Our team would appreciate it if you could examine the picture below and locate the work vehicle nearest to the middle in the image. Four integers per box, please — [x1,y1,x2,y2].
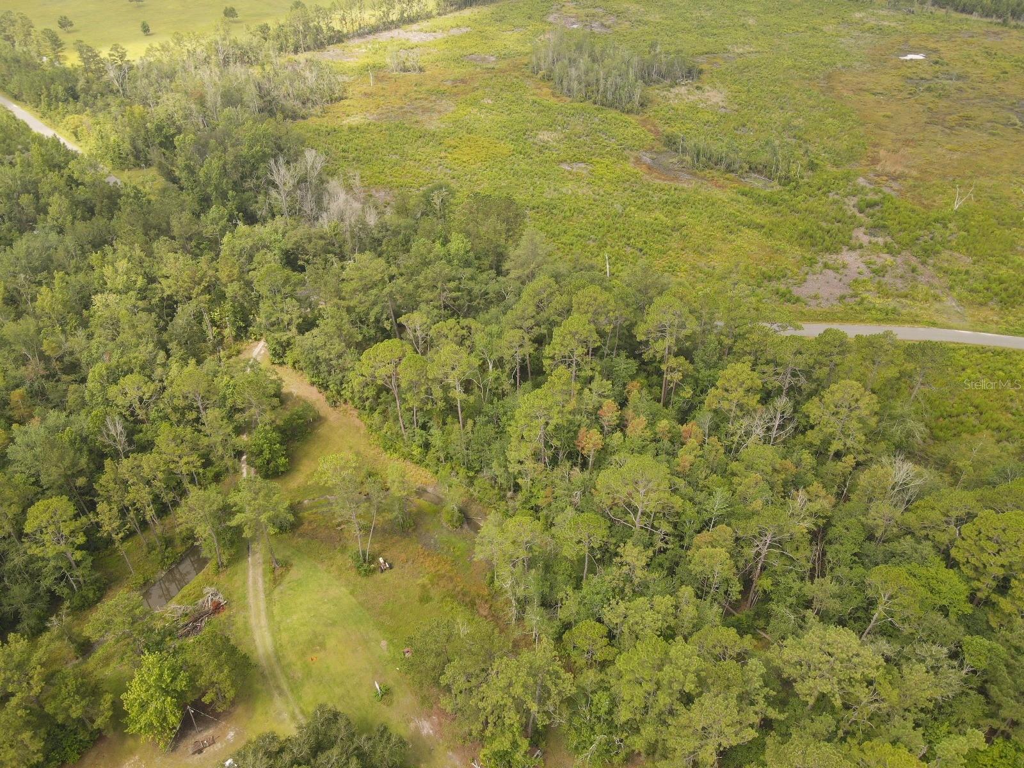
[374,551,391,571]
